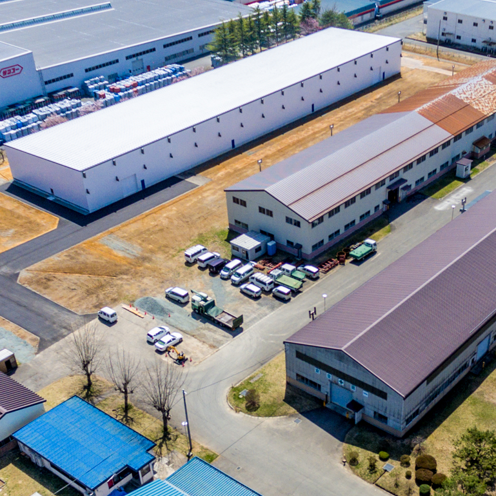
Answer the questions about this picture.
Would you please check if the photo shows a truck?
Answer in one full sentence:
Yes, a truck is visible in the scene.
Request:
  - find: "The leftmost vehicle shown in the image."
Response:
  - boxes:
[98,306,118,324]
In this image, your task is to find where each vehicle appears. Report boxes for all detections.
[299,266,322,280]
[248,272,274,291]
[154,334,183,353]
[164,286,189,303]
[178,285,246,327]
[172,340,184,364]
[272,284,292,300]
[98,306,118,324]
[243,255,261,266]
[183,244,208,263]
[231,263,255,283]
[196,253,220,269]
[352,237,375,256]
[281,259,305,278]
[209,259,227,274]
[145,328,170,345]
[268,267,302,289]
[219,259,243,278]
[239,284,263,298]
